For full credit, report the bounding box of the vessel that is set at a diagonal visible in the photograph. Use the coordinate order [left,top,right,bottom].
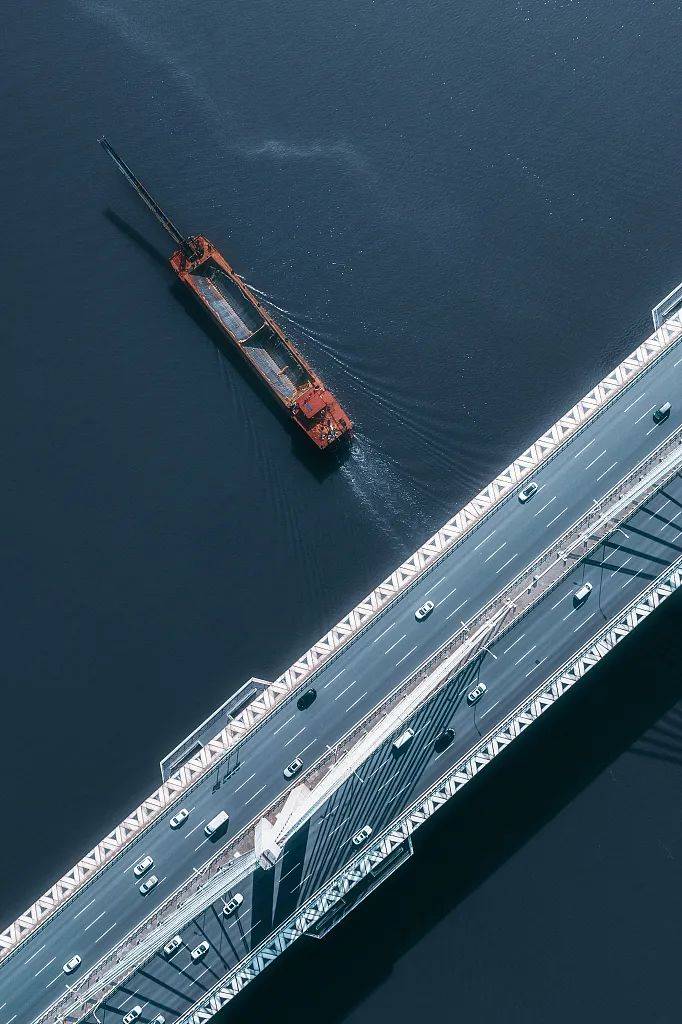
[96,137,353,449]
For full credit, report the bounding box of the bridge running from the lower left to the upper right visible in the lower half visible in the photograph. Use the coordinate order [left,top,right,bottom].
[0,281,682,1024]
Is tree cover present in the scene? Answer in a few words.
No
